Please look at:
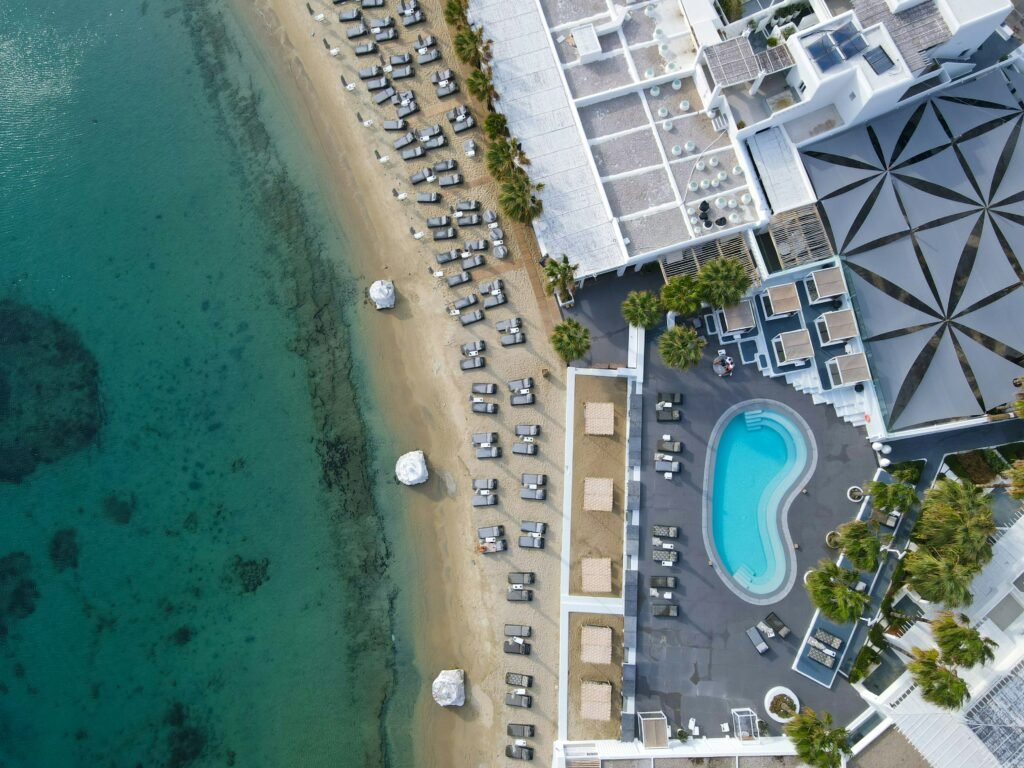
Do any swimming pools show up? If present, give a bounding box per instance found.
[702,399,818,605]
